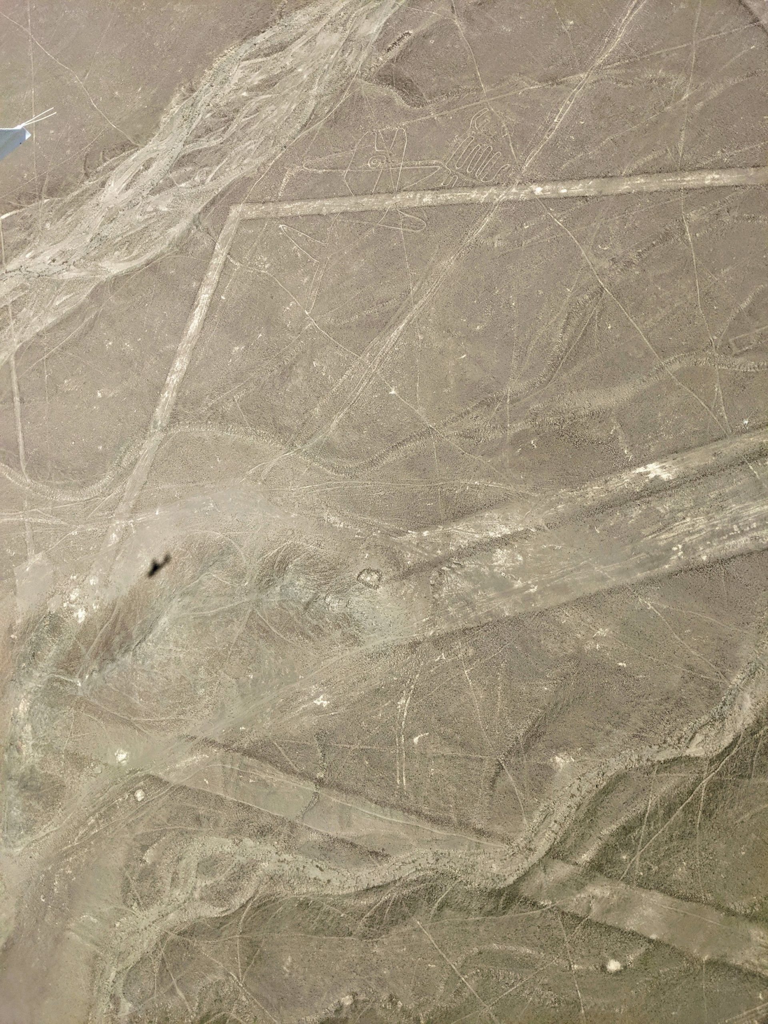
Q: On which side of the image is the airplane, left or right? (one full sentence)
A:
You can find the airplane on the left side of the picture.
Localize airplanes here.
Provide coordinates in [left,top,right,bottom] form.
[0,107,56,163]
